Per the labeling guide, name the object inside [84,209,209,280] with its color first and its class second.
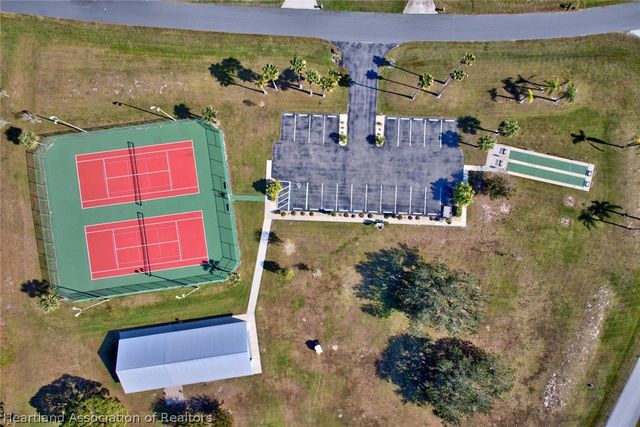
red tennis court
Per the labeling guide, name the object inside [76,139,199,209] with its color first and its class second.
red tennis court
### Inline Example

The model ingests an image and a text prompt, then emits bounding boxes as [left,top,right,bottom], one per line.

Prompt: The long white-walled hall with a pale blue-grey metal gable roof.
[116,321,254,393]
